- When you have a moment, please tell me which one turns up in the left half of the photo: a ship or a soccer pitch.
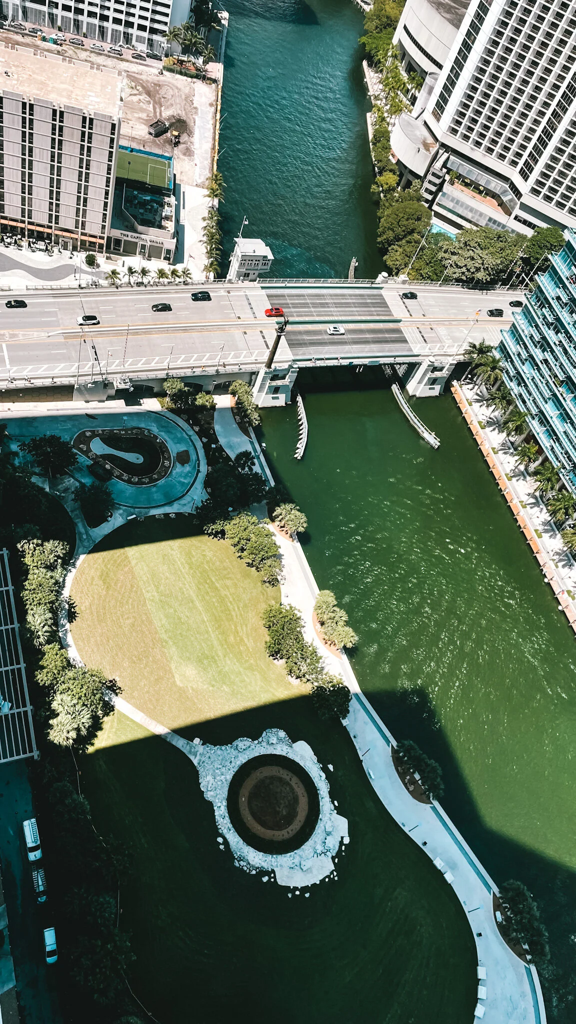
soccer pitch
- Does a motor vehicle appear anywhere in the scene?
Yes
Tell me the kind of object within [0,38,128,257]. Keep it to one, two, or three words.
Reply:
building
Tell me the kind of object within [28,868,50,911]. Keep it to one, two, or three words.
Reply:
truck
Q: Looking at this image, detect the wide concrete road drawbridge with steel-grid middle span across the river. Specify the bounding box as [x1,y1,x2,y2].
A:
[0,278,545,415]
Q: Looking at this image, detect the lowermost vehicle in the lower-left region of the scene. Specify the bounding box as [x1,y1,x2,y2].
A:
[41,923,60,969]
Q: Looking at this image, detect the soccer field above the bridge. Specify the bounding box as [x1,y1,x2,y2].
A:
[115,136,176,197]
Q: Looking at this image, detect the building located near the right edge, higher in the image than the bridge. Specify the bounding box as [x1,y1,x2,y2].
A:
[385,0,576,275]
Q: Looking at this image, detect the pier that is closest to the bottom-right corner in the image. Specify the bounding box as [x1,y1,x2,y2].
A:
[451,387,576,641]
